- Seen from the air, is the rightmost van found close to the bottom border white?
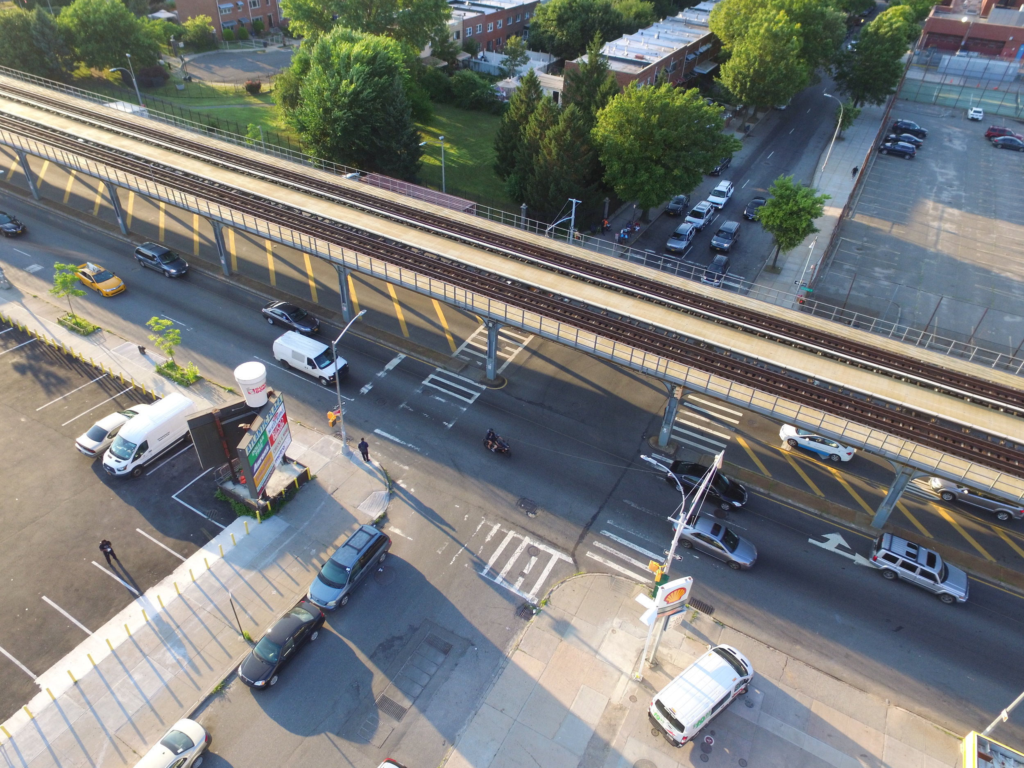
Yes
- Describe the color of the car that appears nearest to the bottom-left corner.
white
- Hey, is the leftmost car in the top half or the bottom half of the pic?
top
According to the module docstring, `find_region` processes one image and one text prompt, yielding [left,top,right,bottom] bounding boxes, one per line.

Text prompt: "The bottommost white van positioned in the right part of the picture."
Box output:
[649,644,758,751]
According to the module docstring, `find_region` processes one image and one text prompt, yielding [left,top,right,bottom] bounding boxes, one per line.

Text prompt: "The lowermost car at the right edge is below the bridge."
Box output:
[875,531,979,607]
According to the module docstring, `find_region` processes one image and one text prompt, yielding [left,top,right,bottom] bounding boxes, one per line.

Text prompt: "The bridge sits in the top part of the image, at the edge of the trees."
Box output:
[0,64,1024,538]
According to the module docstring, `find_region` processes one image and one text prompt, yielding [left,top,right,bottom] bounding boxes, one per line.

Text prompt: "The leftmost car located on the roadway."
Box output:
[0,210,26,236]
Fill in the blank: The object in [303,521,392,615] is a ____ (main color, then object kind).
blue car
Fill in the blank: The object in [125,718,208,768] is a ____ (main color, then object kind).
white car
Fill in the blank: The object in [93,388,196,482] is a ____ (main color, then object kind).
white van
